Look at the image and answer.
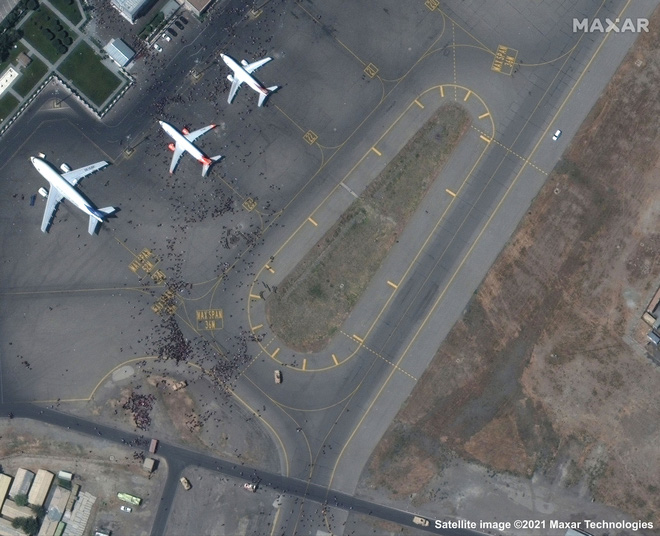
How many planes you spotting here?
3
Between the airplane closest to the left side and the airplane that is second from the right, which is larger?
the airplane closest to the left side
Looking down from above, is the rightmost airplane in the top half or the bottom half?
top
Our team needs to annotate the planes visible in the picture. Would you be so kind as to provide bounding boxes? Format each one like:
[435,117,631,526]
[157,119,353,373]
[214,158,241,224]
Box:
[32,157,114,233]
[220,54,278,106]
[159,120,222,173]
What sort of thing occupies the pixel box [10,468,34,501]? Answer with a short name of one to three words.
shed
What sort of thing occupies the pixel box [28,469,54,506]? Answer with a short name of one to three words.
shed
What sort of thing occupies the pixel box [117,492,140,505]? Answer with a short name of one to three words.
vehicle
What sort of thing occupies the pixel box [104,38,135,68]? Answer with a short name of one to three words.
building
